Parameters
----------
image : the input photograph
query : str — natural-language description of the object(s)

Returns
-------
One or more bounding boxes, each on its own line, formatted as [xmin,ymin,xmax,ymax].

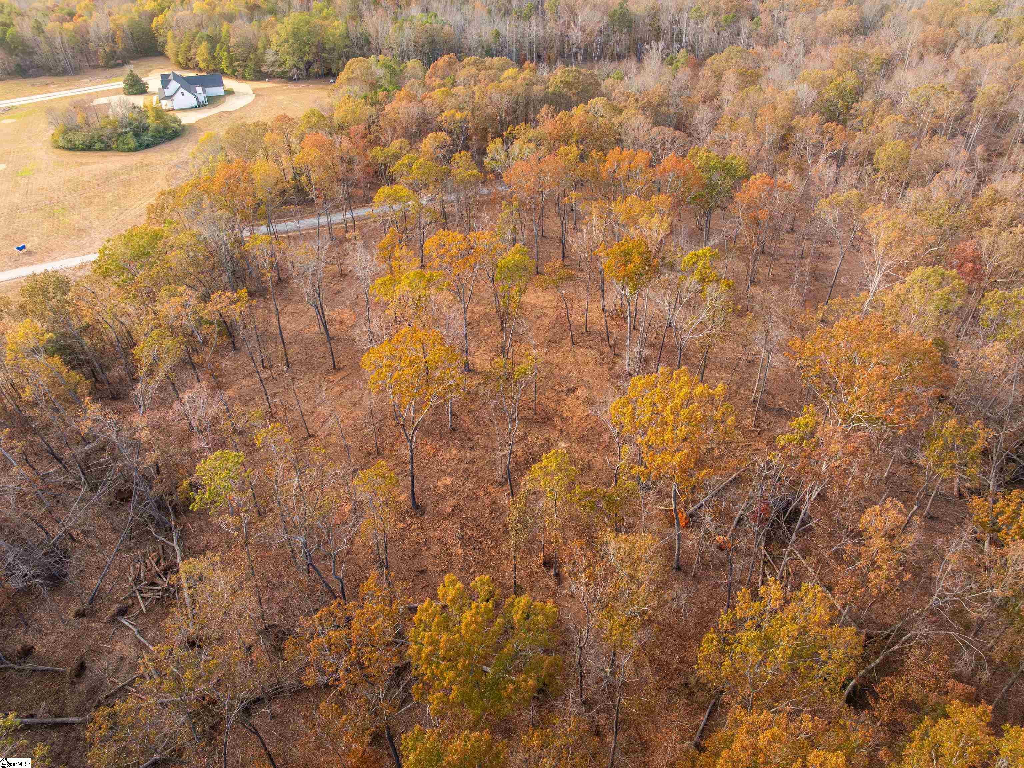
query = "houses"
[148,71,224,110]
